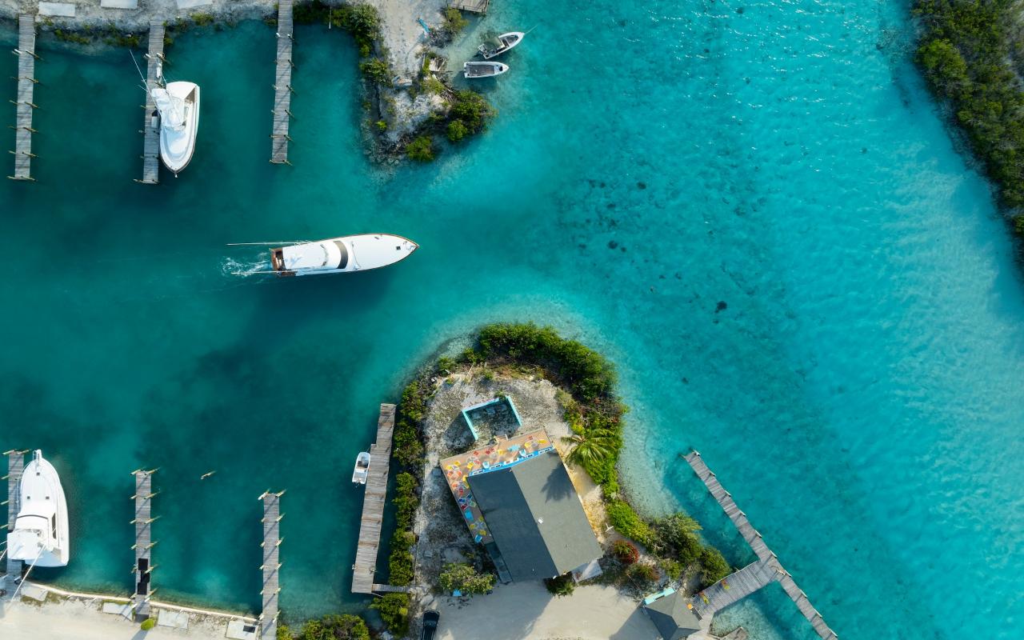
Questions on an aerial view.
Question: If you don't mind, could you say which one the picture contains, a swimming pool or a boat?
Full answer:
It is a boat that can be seen here.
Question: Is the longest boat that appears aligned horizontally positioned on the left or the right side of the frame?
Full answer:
You can find the longest boat that appears aligned horizontally on the left side of the picture.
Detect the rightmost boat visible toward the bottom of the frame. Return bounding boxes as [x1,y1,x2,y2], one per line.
[352,450,370,487]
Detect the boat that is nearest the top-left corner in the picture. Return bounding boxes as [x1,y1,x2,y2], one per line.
[129,49,204,180]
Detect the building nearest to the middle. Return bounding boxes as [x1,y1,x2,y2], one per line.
[440,428,604,582]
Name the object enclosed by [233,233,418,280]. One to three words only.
boat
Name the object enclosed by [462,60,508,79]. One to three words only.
boat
